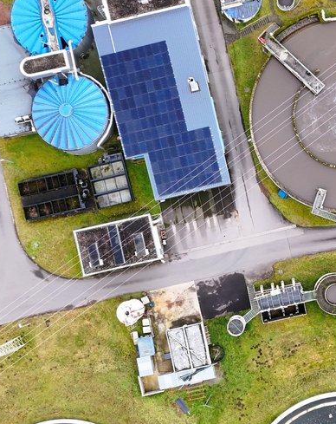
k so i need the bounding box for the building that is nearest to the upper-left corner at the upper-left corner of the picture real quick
[17,41,80,81]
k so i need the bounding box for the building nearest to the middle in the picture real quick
[74,215,165,276]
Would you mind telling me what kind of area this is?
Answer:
industrial area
